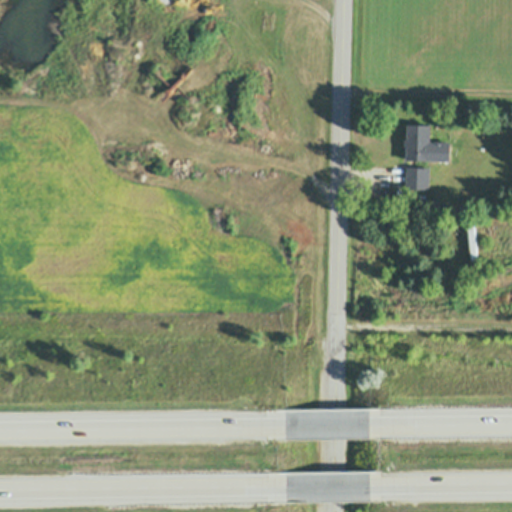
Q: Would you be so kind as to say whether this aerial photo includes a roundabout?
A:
No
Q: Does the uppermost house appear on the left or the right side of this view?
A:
right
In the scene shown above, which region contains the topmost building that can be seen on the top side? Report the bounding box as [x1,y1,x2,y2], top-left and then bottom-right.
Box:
[407,126,450,164]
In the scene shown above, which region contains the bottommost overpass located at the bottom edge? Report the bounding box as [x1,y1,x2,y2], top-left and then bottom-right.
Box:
[272,472,384,506]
